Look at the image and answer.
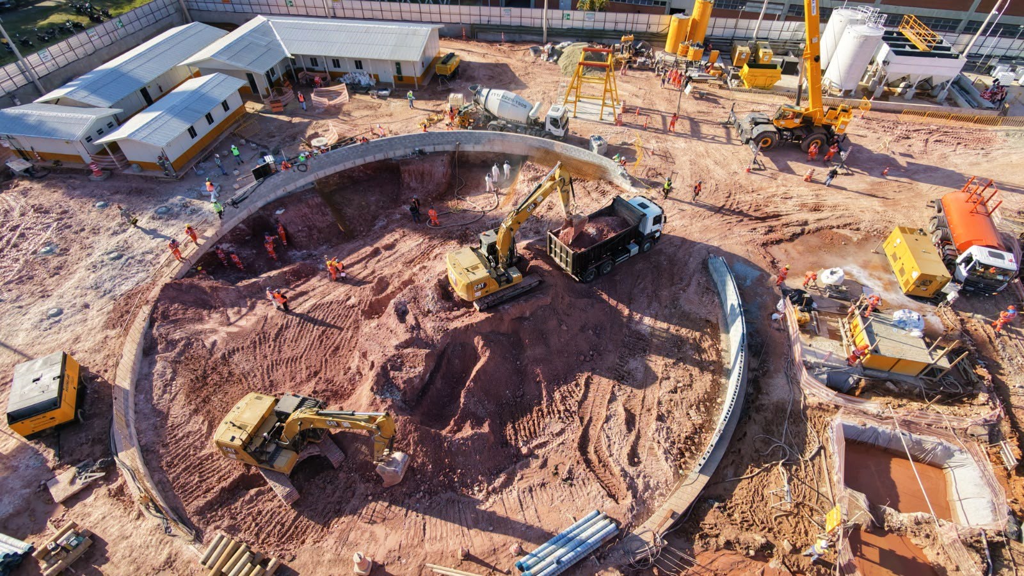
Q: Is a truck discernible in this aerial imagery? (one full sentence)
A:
Yes, I can see a truck in this picture.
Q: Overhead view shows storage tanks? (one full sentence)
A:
Yes, a storage tank is visible in the scene.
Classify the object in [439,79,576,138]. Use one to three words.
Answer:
truck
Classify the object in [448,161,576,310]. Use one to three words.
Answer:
work vehicle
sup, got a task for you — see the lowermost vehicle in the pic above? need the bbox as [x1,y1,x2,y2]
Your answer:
[217,392,421,500]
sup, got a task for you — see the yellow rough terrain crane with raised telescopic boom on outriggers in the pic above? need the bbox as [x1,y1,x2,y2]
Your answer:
[730,0,842,170]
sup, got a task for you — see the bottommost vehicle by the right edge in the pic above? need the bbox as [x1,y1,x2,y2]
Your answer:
[926,182,1024,311]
